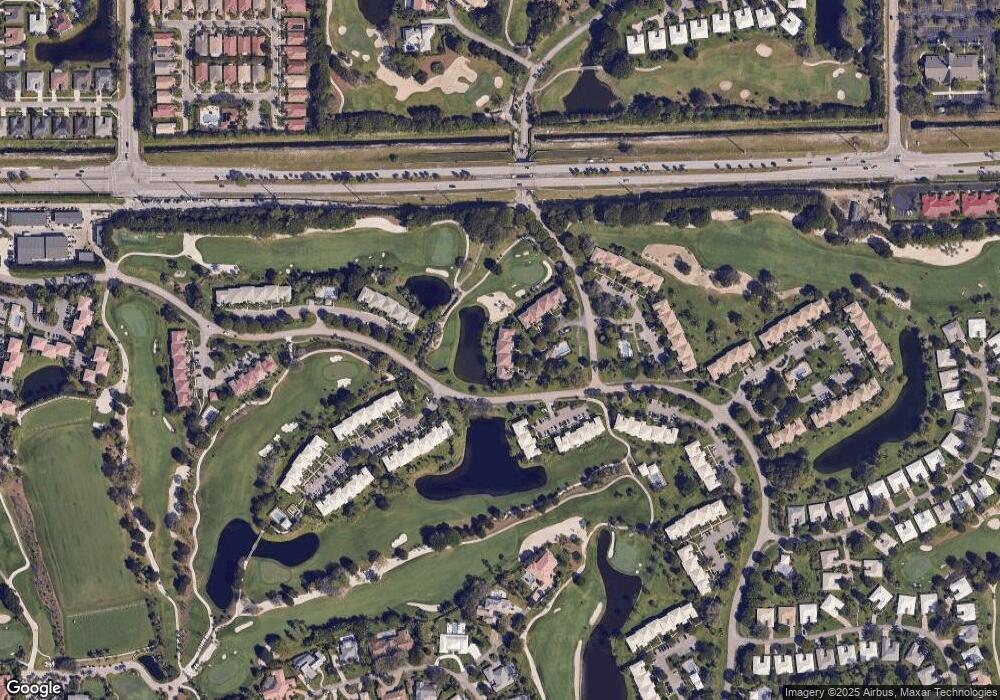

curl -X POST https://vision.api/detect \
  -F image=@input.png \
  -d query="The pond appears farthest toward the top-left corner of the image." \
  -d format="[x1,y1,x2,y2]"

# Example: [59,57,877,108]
[36,0,111,62]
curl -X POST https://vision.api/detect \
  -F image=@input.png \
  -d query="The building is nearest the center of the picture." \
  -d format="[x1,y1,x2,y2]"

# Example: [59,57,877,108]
[497,328,516,380]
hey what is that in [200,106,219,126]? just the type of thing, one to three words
swimming pool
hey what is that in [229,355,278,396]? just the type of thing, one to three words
building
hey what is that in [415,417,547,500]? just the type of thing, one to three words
pond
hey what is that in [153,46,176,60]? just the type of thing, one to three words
house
